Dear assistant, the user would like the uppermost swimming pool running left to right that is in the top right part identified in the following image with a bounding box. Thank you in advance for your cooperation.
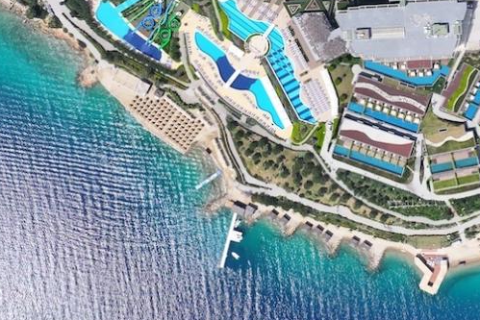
[364,60,450,87]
